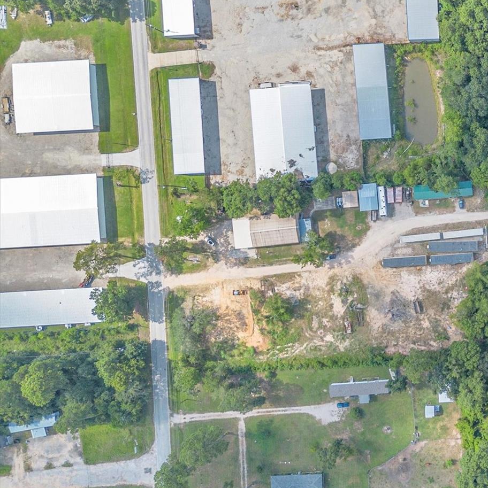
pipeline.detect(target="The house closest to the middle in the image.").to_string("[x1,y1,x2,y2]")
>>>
[232,217,254,249]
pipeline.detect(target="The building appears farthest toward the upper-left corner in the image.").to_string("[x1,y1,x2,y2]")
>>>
[12,59,100,134]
